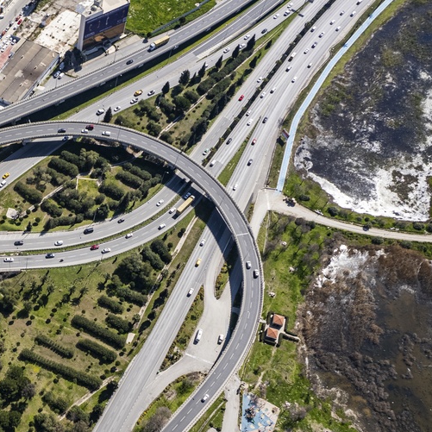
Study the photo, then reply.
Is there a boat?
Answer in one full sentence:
No, I can see no boat in this picture.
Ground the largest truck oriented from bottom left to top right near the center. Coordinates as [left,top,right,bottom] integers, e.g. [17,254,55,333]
[174,195,195,217]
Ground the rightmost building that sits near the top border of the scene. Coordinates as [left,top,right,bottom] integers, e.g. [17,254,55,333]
[62,0,129,51]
